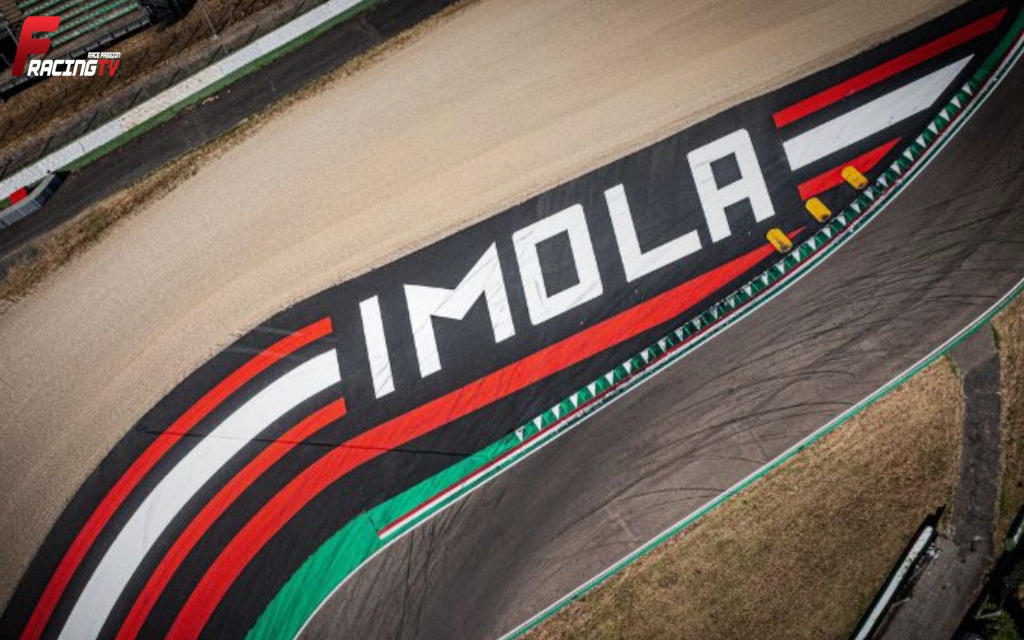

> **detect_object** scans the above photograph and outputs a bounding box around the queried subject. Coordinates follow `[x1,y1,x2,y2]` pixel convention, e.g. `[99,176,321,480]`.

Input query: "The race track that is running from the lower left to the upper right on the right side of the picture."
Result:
[293,25,1024,640]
